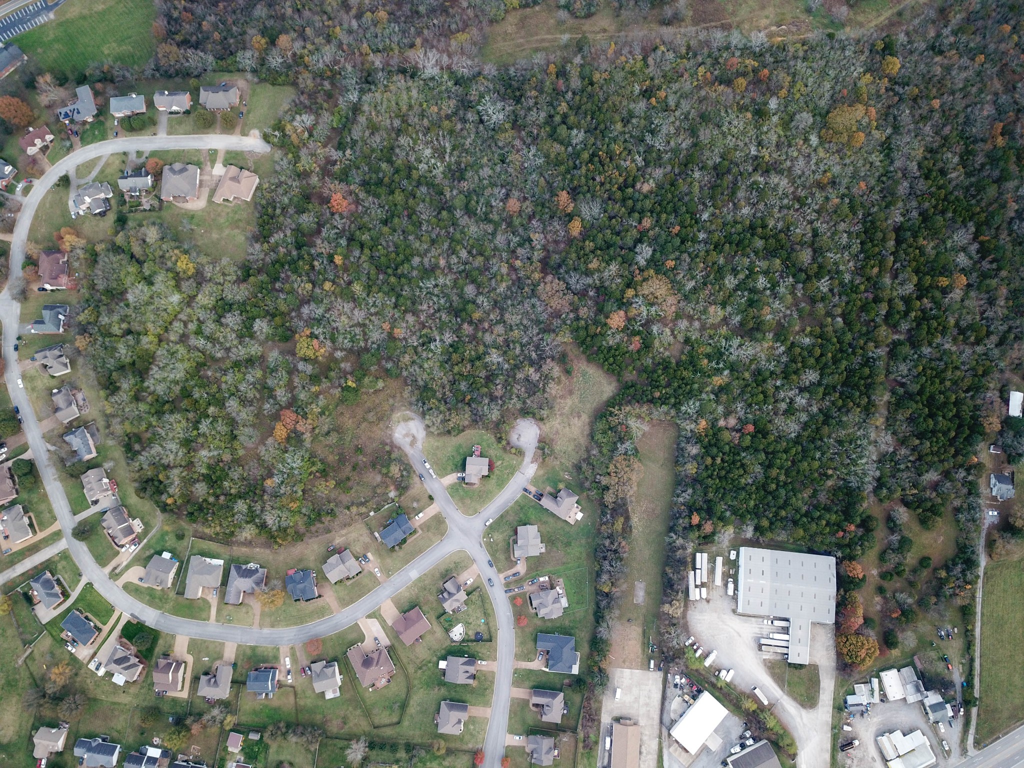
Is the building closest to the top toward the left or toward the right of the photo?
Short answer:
left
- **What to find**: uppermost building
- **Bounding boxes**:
[0,41,28,79]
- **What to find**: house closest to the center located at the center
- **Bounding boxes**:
[465,445,488,483]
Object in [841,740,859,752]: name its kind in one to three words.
vehicle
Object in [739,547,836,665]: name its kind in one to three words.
building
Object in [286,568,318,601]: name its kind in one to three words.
house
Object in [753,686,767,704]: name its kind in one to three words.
vehicle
